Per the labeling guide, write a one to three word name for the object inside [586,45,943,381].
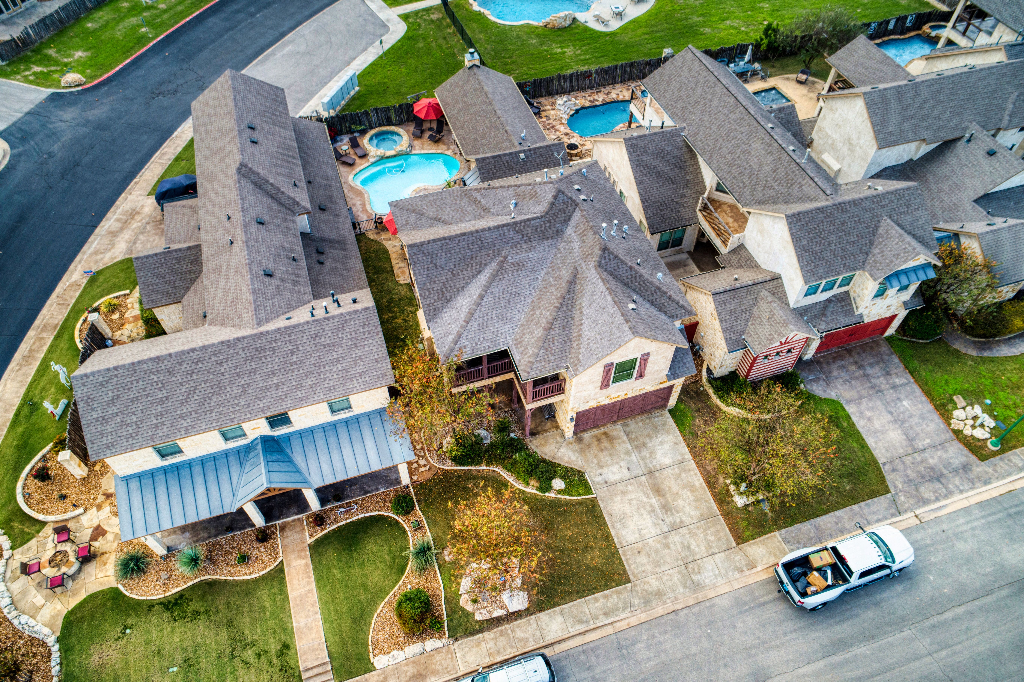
house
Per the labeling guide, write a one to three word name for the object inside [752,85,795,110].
swimming pool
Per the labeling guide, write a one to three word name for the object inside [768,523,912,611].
truck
